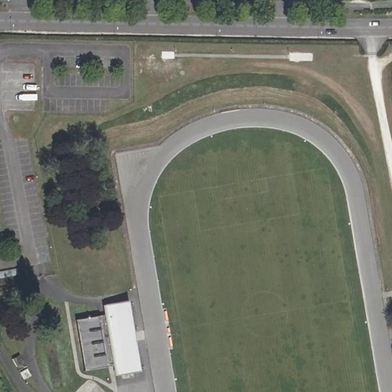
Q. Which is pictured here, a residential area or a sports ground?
sports ground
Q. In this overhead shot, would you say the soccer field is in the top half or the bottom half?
bottom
